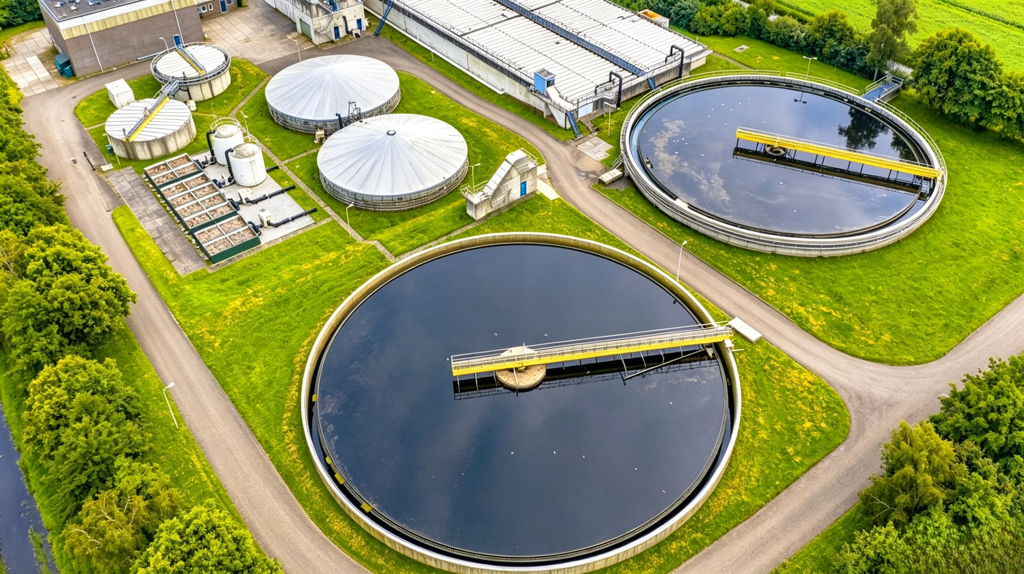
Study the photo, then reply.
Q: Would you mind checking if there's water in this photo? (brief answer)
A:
Yes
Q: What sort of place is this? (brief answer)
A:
industrial area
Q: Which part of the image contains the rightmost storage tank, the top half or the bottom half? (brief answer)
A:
top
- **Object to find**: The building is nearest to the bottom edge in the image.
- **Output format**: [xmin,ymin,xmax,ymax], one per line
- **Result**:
[462,146,538,220]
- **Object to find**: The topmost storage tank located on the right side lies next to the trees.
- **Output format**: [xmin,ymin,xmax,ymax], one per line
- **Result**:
[622,70,948,257]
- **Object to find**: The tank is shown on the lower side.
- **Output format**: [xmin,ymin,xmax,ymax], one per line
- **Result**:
[300,232,742,574]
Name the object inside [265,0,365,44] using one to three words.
building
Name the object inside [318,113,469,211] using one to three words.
storage tank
